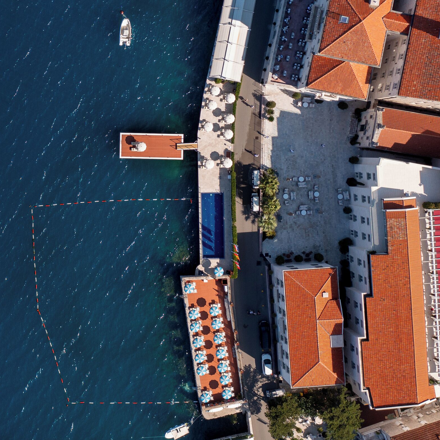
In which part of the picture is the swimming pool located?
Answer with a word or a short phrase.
center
